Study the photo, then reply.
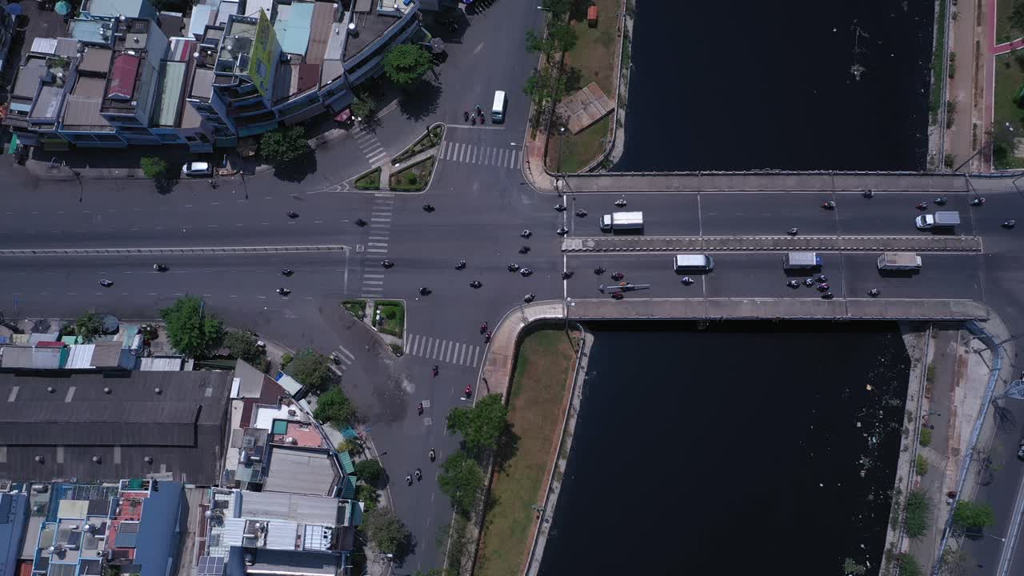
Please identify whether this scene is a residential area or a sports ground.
residential area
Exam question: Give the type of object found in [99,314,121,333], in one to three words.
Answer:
umbrella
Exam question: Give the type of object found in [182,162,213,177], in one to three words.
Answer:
car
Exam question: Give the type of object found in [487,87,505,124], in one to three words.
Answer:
vehicle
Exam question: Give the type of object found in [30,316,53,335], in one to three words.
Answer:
umbrella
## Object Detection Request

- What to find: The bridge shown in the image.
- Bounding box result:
[563,171,993,322]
